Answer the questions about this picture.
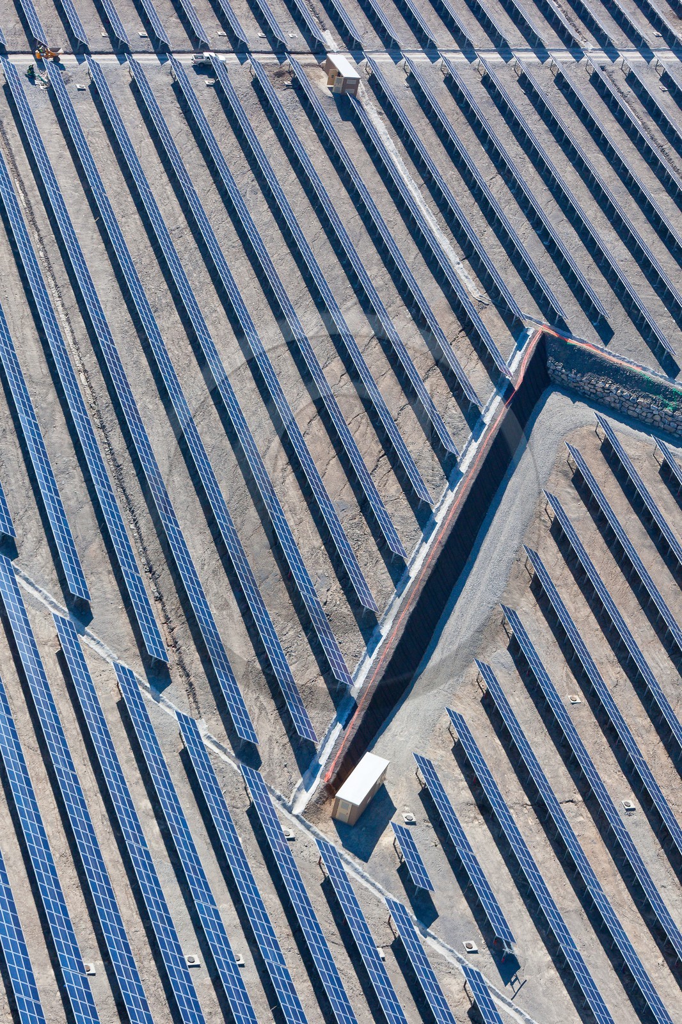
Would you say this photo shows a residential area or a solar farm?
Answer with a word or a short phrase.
solar farm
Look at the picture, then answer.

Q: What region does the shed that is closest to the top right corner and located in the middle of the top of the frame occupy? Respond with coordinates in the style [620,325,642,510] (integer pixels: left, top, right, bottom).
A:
[331,53,361,94]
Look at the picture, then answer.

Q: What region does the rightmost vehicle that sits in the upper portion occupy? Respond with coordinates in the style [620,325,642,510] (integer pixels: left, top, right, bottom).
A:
[191,51,227,67]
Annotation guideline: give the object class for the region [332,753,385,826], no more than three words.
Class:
shed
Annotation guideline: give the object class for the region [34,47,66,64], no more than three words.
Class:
vehicle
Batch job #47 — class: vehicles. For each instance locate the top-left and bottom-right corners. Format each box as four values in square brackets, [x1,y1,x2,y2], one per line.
[34,47,66,64]
[191,51,227,67]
